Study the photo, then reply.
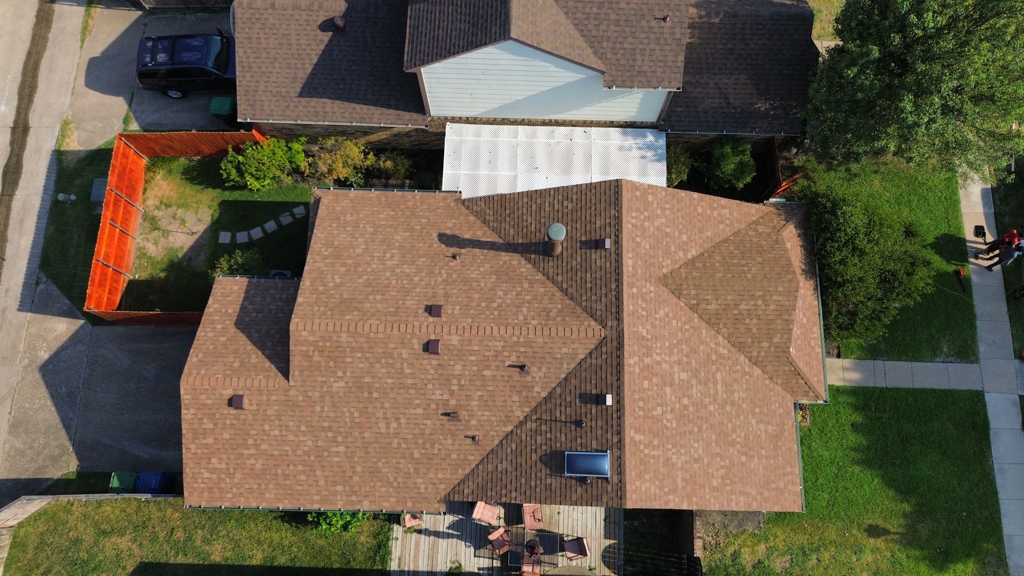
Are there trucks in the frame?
No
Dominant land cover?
buildings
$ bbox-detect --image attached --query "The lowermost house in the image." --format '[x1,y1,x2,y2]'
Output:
[182,178,831,518]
